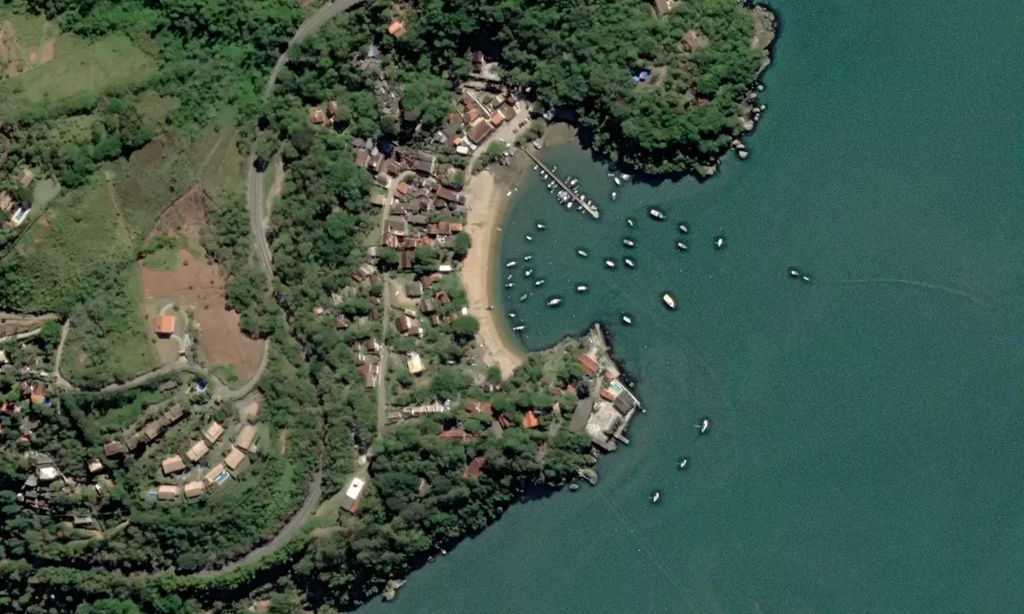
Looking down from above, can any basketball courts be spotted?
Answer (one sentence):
No, this view has no basketball court in it.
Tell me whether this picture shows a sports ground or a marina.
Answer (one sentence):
It's a marina.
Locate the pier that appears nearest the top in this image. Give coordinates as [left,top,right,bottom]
[521,147,597,217]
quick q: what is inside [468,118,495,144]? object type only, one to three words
house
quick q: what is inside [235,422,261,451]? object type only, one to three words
house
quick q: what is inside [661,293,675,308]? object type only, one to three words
boat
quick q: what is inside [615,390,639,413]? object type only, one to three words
building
